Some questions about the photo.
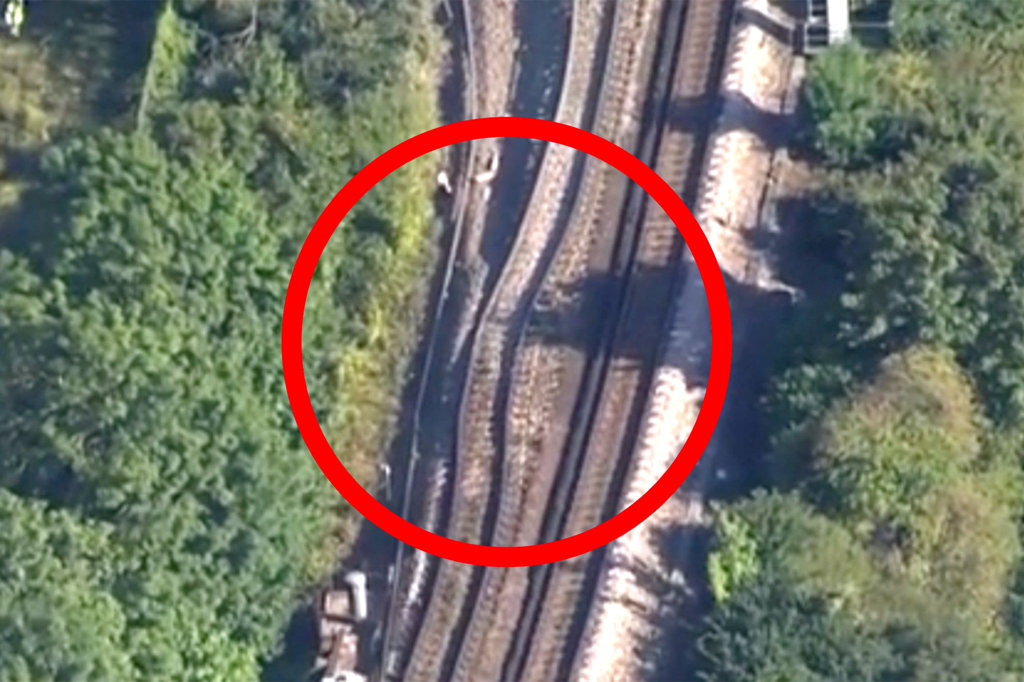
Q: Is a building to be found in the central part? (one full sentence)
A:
No, I can find no building in the central part.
